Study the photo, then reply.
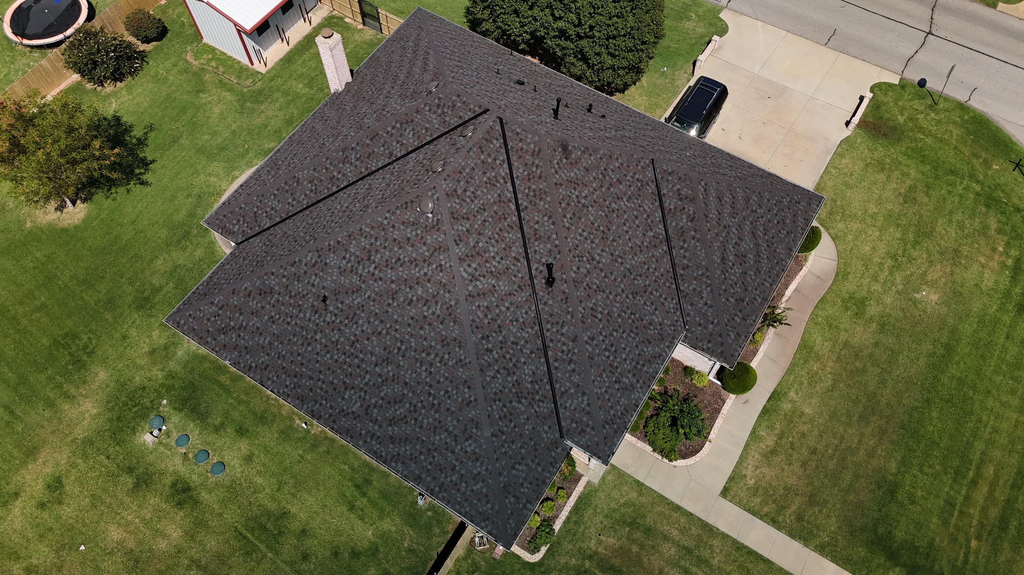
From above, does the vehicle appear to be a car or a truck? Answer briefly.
car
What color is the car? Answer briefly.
black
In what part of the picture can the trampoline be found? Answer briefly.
top left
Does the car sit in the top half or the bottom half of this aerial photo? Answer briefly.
top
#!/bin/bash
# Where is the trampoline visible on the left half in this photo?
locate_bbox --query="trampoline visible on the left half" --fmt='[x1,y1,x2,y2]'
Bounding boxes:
[4,0,95,55]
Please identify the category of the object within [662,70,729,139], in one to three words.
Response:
car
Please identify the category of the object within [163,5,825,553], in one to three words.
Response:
house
